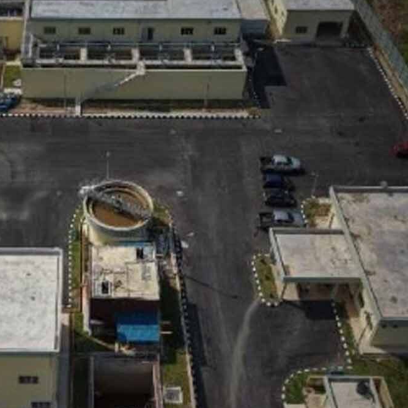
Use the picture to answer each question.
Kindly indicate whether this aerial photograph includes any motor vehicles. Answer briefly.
Yes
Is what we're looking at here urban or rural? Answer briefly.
urban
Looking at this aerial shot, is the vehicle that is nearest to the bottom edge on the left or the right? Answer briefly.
right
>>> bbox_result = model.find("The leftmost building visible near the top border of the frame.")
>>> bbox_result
[22,0,270,103]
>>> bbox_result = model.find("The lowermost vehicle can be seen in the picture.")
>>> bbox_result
[258,206,307,226]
